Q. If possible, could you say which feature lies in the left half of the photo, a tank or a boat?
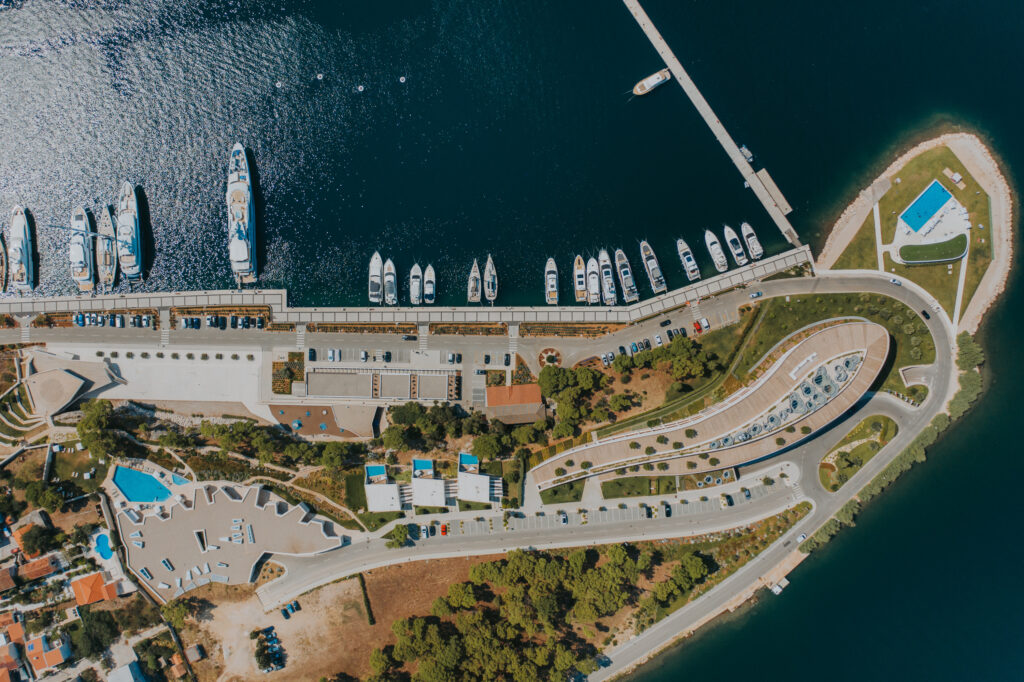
boat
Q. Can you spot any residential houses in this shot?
Yes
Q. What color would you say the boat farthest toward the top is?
white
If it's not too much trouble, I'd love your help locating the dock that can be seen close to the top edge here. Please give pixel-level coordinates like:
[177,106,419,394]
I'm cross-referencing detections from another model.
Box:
[622,0,799,242]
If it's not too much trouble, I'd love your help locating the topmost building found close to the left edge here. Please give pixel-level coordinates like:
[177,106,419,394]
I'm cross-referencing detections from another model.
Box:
[26,351,127,418]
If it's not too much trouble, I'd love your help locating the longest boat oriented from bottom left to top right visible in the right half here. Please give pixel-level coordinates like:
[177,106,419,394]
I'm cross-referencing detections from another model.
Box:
[627,68,674,104]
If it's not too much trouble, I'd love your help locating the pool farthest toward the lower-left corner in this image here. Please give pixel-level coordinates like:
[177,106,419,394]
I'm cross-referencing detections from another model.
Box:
[93,534,113,560]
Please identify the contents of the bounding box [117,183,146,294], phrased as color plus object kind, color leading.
white boat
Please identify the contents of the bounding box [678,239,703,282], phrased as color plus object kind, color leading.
white boat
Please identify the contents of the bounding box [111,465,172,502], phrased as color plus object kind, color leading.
blue swimming pool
